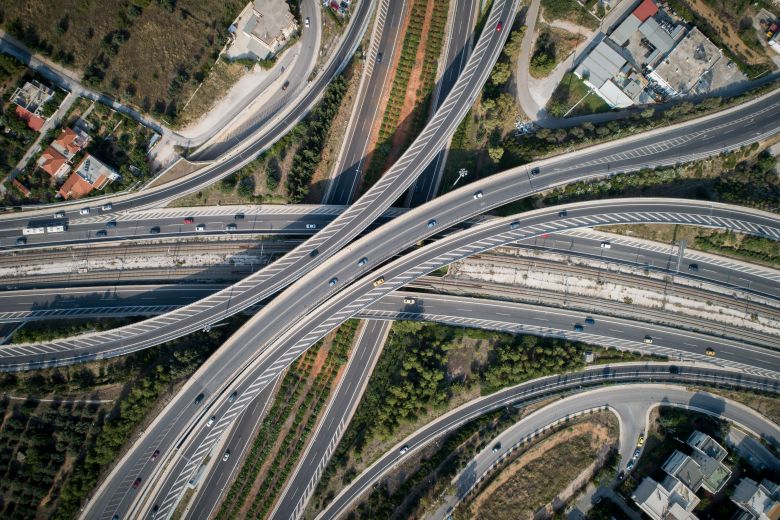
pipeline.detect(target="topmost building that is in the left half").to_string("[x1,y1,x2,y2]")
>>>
[242,0,302,65]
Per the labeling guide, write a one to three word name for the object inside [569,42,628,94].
building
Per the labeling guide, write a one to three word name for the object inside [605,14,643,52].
building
